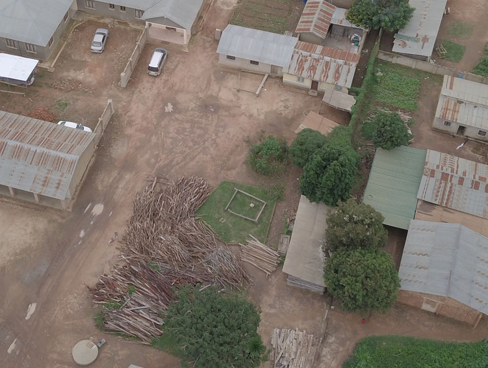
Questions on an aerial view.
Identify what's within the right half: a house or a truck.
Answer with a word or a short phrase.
house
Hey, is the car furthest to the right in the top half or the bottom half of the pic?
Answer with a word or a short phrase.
top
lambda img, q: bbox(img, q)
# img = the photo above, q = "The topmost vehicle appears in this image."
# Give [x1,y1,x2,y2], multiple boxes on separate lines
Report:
[90,28,109,54]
